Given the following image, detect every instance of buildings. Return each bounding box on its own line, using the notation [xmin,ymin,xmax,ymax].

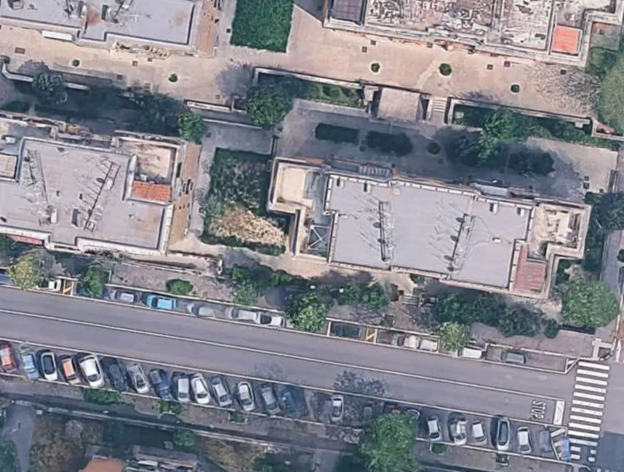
[0,0,220,67]
[69,452,234,472]
[0,102,201,256]
[266,149,592,298]
[323,0,624,72]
